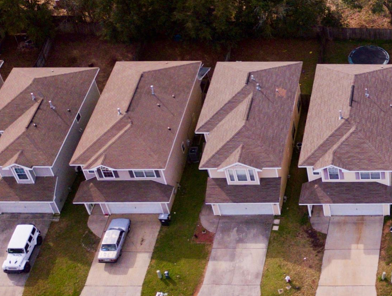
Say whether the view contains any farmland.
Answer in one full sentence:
No, no farmland is visible.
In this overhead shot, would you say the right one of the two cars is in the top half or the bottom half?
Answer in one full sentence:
The right one of the two cars is in the bottom half of the image.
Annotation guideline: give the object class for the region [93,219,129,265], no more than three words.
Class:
car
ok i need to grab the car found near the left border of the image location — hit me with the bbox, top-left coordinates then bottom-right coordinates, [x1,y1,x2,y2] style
[0,220,41,269]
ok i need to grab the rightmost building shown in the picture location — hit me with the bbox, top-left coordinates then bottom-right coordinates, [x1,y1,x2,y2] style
[298,63,392,216]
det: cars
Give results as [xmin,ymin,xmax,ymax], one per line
[0,220,41,269]
[93,219,129,265]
